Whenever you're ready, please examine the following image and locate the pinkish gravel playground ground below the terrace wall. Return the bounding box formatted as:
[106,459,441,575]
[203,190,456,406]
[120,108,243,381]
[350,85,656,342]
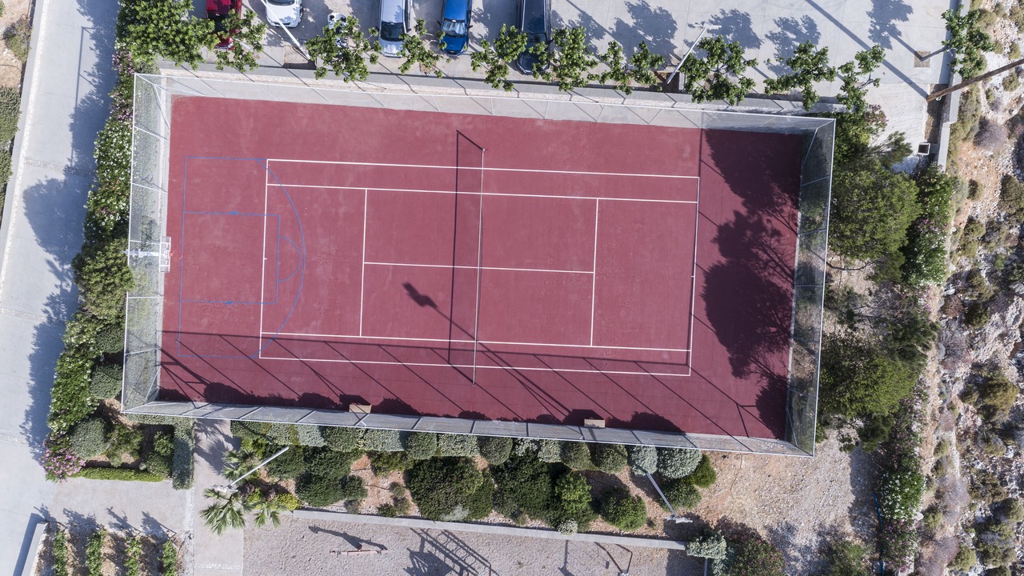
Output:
[243,509,707,576]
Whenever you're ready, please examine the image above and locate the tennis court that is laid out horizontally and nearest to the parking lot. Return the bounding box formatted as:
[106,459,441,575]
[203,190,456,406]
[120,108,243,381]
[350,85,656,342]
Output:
[160,95,803,439]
